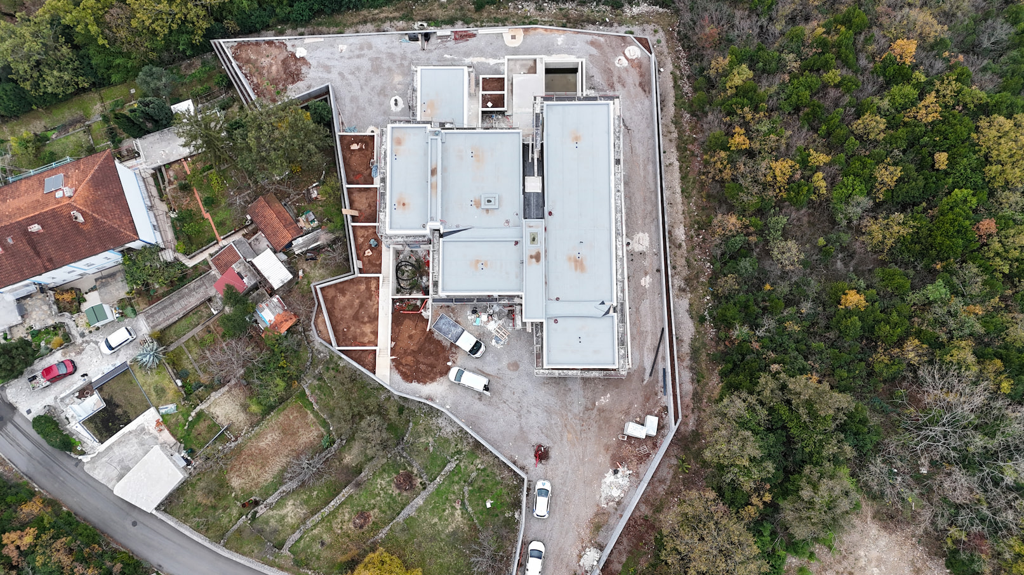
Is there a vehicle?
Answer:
Yes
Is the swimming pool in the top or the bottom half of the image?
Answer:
top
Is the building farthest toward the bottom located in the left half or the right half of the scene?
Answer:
left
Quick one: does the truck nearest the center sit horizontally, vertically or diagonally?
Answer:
diagonally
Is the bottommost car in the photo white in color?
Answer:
Yes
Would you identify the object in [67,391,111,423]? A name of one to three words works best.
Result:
house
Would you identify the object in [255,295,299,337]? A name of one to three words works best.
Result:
shed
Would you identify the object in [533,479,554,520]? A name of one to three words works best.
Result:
car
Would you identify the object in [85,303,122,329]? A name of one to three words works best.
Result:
greenhouse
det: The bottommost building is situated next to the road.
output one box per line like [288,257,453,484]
[114,445,189,513]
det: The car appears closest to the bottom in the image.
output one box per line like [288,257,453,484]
[524,540,547,575]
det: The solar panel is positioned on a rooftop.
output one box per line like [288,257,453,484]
[43,172,62,192]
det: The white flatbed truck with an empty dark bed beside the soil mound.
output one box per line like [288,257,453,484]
[431,311,487,359]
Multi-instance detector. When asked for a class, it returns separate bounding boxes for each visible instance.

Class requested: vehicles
[24,358,78,393]
[447,367,493,397]
[100,324,139,356]
[524,540,547,575]
[533,479,554,520]
[431,311,487,359]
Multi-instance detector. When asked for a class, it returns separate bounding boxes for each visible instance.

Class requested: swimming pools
[540,49,585,109]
